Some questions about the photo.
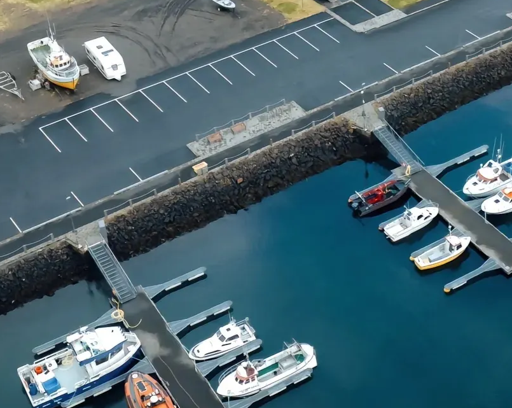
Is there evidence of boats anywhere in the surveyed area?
Yes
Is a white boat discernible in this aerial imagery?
Yes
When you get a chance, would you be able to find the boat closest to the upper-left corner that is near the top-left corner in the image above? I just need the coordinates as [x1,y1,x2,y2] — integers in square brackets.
[28,18,78,91]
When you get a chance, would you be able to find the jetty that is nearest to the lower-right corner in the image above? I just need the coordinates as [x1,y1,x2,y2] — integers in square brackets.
[443,258,501,295]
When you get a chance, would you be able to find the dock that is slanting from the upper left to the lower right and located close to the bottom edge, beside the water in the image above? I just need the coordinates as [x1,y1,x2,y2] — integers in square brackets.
[115,287,228,408]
